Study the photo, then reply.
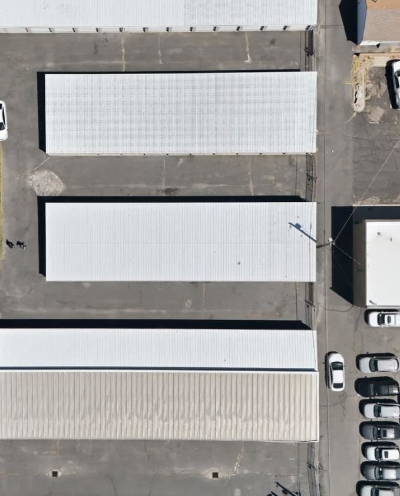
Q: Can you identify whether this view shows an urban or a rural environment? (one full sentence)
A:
The land in this view is best described as urban.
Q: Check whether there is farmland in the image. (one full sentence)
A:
No, no farmland is visible.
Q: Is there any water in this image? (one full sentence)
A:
No, the scene doesn't show any water.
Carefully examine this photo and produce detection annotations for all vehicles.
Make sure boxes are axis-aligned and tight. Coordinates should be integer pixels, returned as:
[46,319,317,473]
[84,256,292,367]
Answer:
[0,98,8,141]
[359,483,400,496]
[359,356,399,375]
[364,444,400,463]
[392,62,400,111]
[363,402,400,420]
[368,311,400,328]
[361,423,400,442]
[358,378,399,398]
[360,461,400,481]
[327,352,346,391]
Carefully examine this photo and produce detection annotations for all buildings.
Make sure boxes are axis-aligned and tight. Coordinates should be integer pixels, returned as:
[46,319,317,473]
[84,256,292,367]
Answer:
[0,328,318,441]
[353,222,400,308]
[45,72,317,158]
[358,0,400,44]
[45,202,316,281]
[0,0,317,35]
